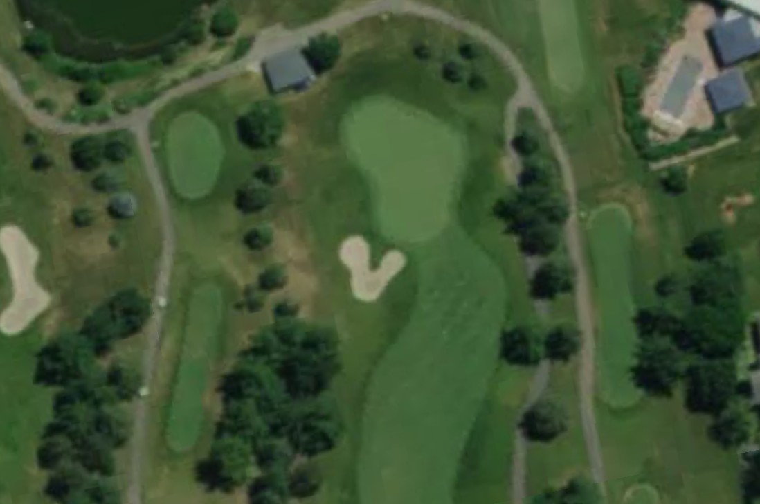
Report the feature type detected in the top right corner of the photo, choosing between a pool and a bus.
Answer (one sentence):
Visible in the top right corner of the photo is a pool.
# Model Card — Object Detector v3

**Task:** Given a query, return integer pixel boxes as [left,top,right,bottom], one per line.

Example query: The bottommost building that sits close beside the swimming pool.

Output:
[707,66,747,110]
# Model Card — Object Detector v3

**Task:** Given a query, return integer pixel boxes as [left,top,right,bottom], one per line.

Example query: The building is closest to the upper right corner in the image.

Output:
[715,15,760,63]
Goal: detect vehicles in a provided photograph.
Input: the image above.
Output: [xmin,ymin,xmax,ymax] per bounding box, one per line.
[141,386,147,396]
[158,297,164,307]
